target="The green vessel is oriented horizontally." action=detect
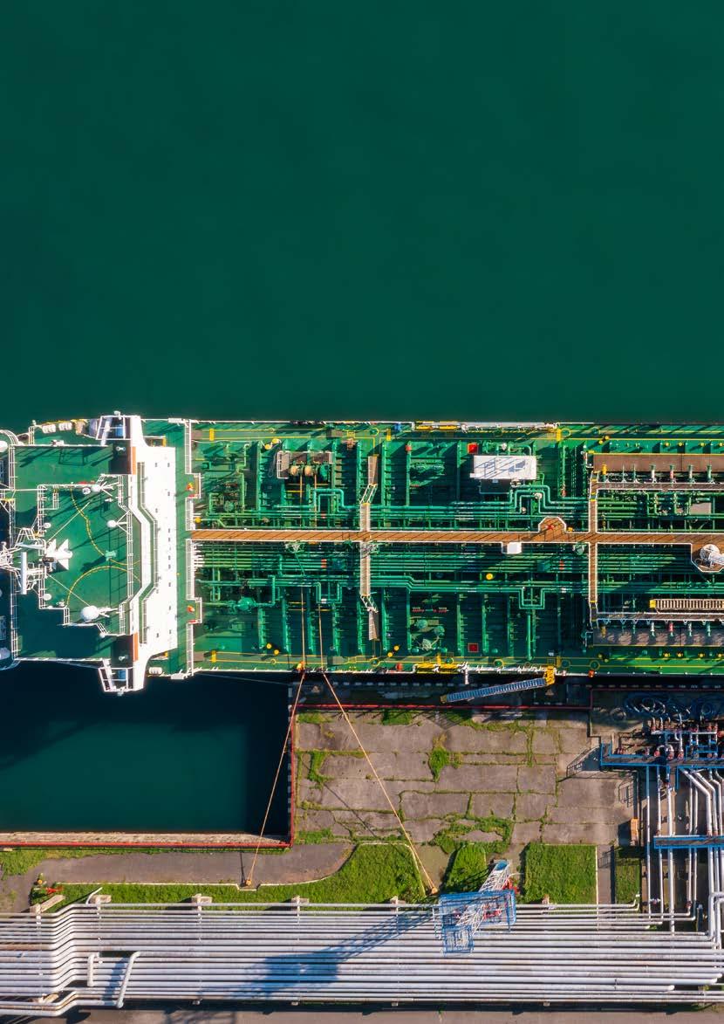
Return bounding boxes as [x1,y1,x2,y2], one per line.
[0,411,724,696]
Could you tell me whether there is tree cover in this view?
No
